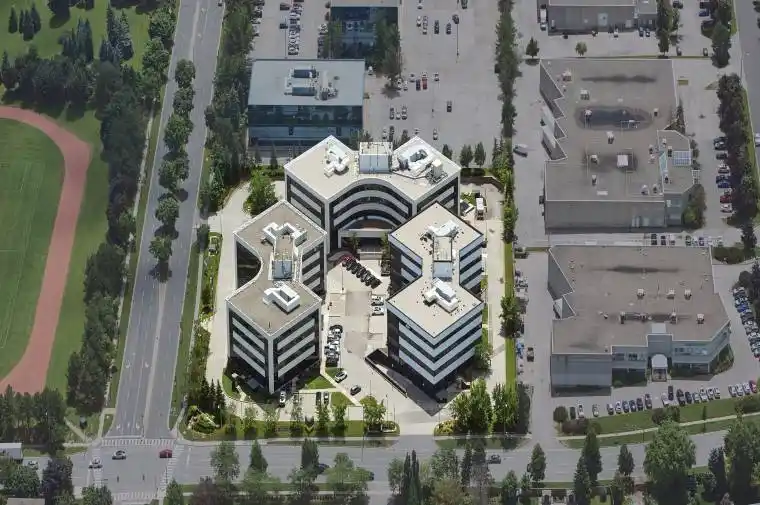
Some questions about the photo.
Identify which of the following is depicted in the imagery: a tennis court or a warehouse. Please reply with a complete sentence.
Looking from above, you can make out a warehouse.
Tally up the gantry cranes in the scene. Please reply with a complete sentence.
No gantry cranes are visible.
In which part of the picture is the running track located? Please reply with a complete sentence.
The running track appears toward the left of the photo.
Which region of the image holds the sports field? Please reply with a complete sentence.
The sports field is in the left part of the image.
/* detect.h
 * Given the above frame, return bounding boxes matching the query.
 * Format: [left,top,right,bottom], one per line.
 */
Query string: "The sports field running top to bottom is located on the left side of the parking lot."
[0,119,65,379]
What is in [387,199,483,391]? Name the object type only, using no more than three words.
building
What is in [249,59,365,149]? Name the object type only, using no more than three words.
building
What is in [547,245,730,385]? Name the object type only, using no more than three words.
warehouse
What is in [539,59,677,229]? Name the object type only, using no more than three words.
warehouse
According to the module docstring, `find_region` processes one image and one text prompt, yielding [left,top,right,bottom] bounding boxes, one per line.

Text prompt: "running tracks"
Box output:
[0,105,91,397]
